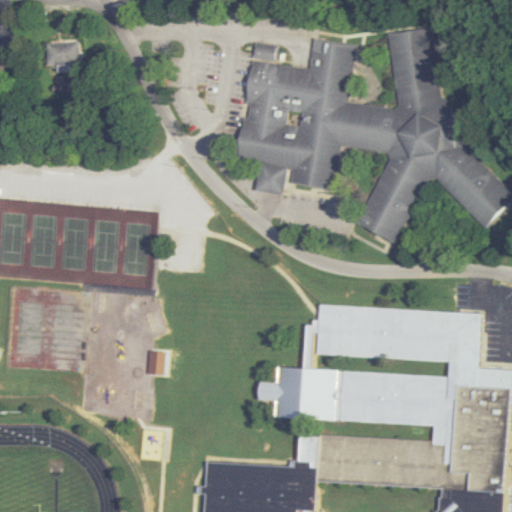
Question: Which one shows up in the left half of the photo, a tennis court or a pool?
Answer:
tennis court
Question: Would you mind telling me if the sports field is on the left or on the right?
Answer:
left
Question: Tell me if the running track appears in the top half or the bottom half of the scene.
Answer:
bottom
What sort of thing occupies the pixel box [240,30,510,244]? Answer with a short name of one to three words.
building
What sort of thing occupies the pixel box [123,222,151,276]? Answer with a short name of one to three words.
tennis court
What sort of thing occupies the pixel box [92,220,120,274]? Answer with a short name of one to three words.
tennis court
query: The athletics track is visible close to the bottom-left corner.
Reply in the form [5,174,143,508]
[0,425,121,512]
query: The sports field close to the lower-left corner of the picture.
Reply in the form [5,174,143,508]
[0,446,100,512]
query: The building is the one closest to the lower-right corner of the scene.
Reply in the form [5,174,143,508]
[196,304,512,512]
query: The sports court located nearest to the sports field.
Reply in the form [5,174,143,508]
[8,287,86,372]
